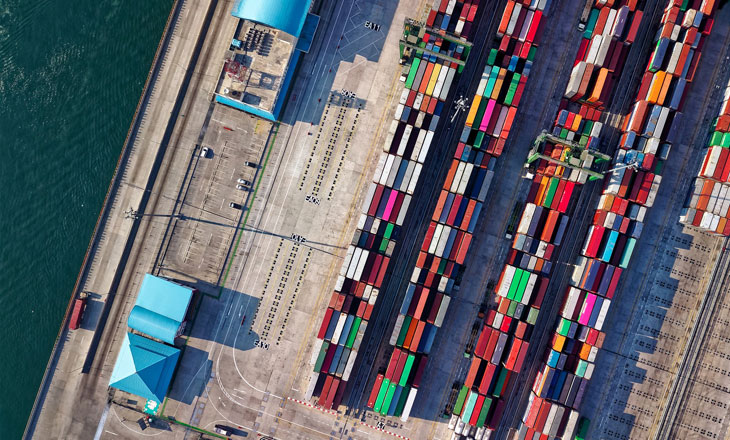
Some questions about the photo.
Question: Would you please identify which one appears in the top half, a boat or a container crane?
container crane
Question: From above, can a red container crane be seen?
No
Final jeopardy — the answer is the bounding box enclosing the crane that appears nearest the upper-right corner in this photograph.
[518,130,617,187]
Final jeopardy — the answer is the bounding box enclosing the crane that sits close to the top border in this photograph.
[395,16,478,85]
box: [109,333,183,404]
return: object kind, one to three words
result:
building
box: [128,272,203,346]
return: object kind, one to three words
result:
building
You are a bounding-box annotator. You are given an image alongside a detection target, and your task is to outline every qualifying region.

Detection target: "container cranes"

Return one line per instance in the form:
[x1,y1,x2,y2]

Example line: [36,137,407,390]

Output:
[395,16,478,85]
[518,130,617,187]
